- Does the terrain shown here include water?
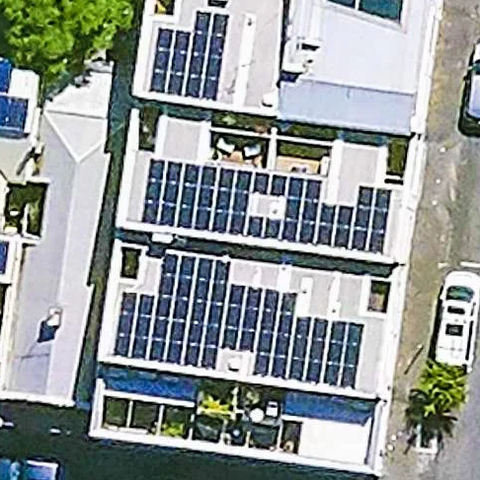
No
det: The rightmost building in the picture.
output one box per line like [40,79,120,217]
[272,0,441,137]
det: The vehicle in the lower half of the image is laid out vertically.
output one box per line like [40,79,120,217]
[433,268,480,369]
